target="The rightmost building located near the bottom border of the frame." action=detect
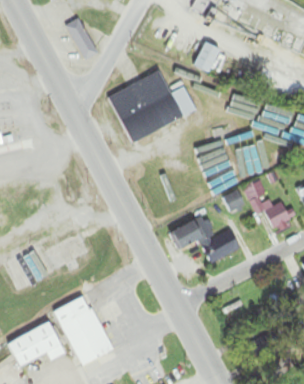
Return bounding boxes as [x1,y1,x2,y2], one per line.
[54,296,112,366]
